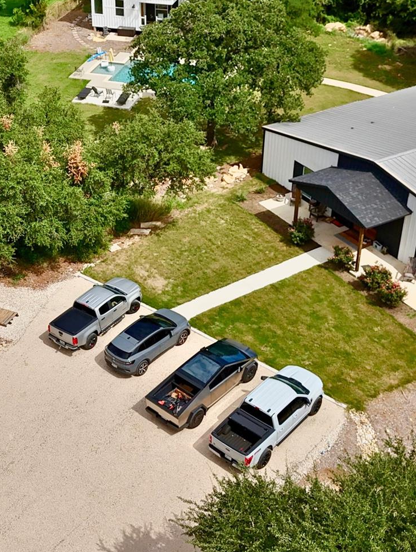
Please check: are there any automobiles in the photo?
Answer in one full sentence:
Yes, looking at the shot, I can spot an automobile.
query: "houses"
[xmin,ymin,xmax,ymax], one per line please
[261,86,416,273]
[91,0,177,33]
